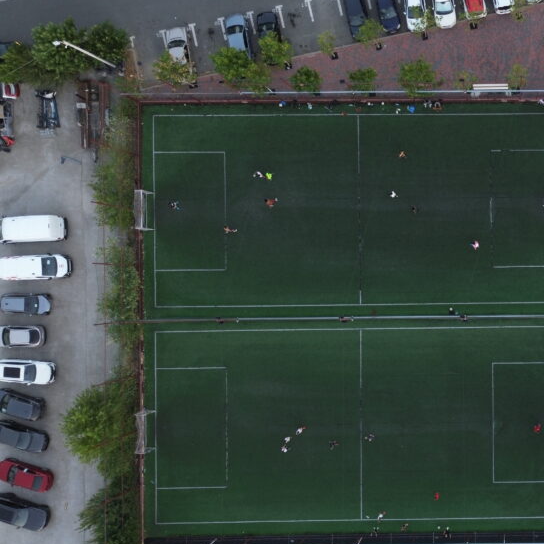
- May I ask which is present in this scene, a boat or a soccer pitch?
soccer pitch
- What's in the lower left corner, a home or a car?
car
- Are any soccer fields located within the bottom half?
Yes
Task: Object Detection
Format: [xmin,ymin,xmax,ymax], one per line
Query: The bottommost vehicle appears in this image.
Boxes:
[0,495,52,529]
